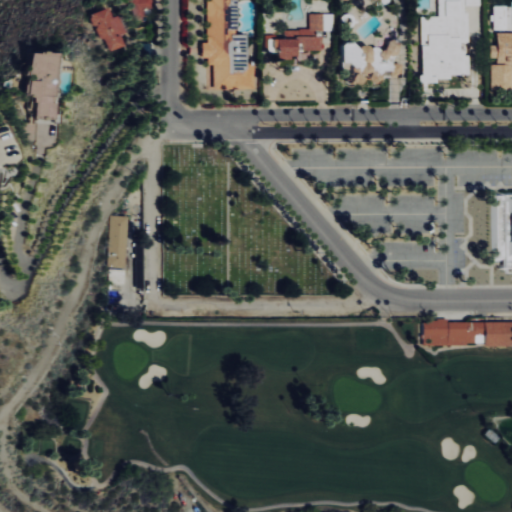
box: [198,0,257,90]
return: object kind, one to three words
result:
building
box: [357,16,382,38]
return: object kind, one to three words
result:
swimming pool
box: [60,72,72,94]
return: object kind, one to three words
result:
swimming pool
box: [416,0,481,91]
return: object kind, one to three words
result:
house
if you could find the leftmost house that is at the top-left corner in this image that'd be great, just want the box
[26,53,62,120]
